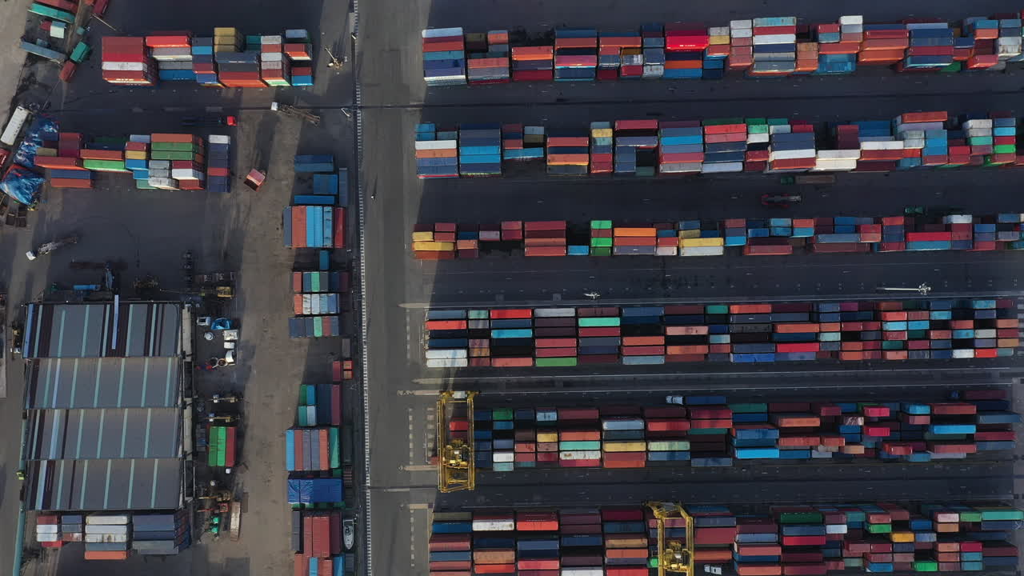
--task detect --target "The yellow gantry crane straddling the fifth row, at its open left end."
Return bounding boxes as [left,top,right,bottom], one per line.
[436,387,485,487]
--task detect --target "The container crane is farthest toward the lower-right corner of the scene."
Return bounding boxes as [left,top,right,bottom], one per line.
[641,495,695,576]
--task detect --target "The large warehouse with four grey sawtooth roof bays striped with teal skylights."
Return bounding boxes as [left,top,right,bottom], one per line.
[22,297,197,511]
